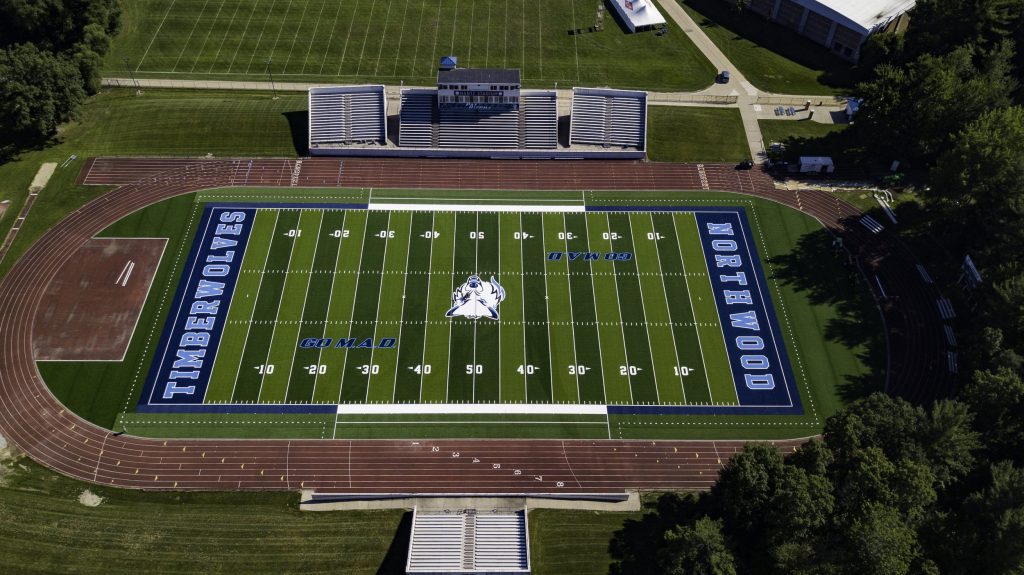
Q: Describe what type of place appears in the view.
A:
sports ground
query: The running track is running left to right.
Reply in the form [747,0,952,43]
[0,155,944,490]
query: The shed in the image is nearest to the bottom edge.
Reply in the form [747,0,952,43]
[799,157,836,173]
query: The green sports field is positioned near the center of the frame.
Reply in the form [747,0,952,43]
[33,187,889,438]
